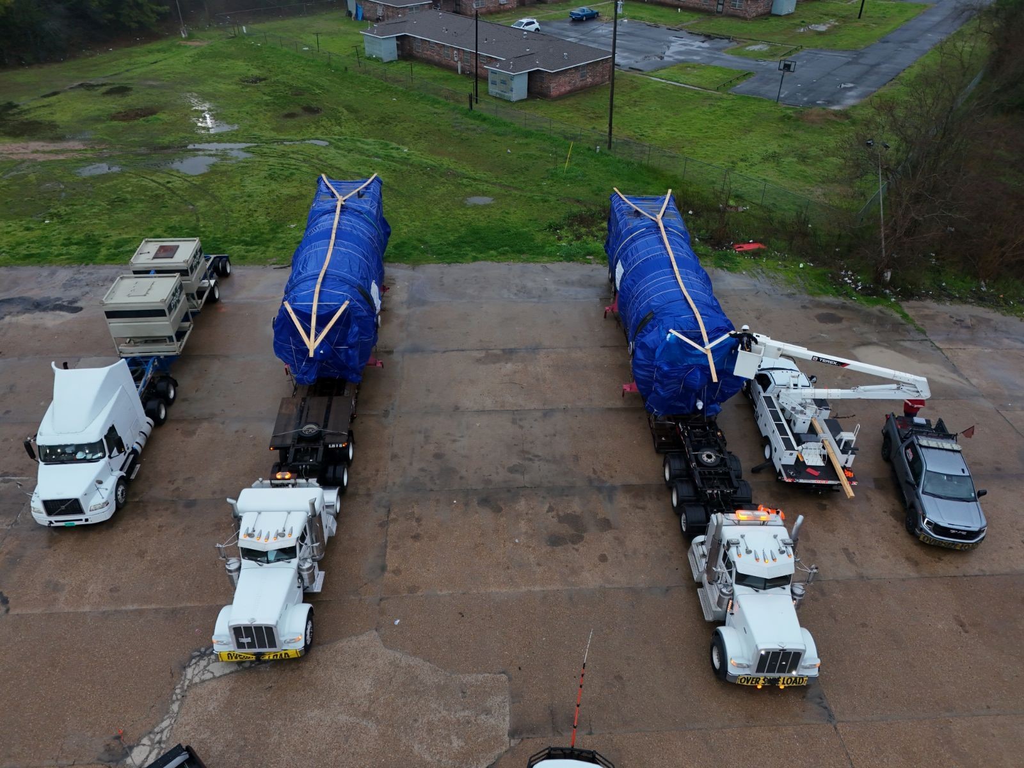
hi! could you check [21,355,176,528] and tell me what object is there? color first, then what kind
white truck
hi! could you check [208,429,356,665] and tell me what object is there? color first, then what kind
white truck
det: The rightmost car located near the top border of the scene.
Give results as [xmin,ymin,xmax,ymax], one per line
[568,8,599,20]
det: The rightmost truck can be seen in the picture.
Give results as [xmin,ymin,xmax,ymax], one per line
[881,413,993,557]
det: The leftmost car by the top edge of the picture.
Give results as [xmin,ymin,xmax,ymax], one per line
[510,17,541,30]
